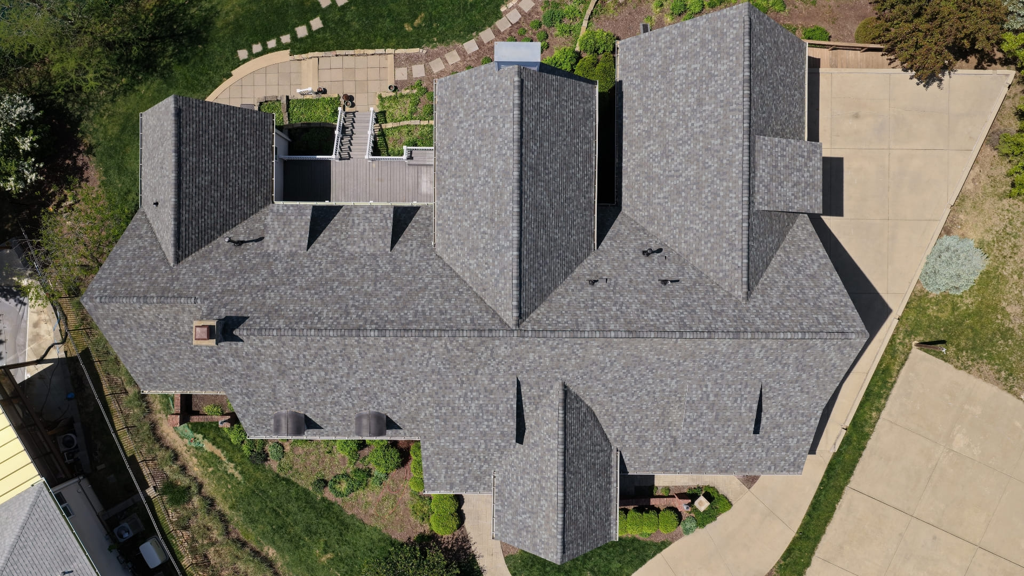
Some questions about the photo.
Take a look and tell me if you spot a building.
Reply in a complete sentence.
Yes, the photo shows a building.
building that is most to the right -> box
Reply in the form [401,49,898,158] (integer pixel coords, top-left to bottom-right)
[83,3,869,564]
